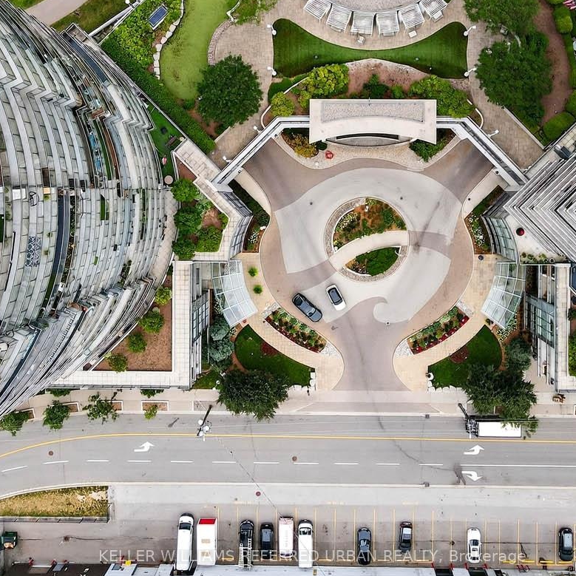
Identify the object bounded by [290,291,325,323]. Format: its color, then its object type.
gray car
